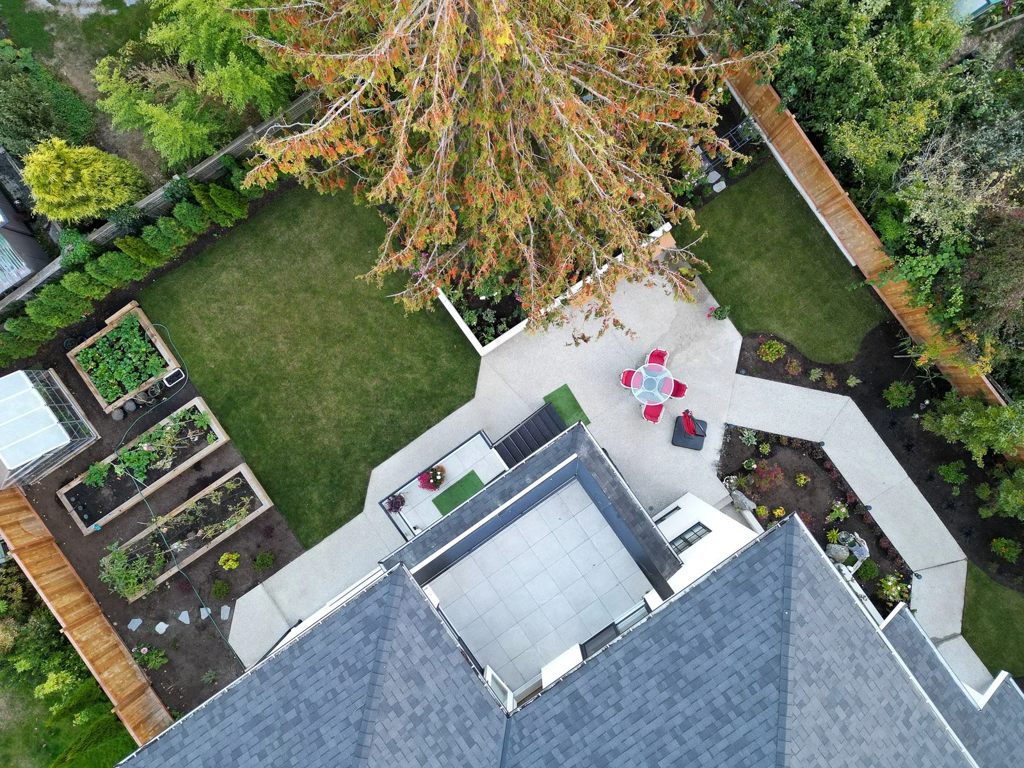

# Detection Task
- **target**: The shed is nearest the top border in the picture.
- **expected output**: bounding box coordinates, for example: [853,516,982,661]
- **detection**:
[0,188,49,299]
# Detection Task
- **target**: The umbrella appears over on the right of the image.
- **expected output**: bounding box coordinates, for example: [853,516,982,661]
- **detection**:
[672,409,708,451]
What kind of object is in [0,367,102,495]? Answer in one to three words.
greenhouse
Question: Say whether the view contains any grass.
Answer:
Yes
